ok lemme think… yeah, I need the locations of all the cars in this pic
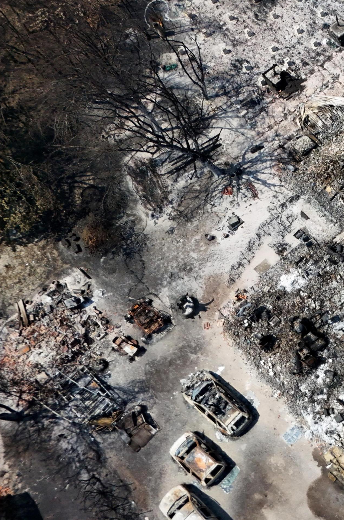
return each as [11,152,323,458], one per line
[174,434,228,486]
[163,488,218,520]
[185,371,252,438]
